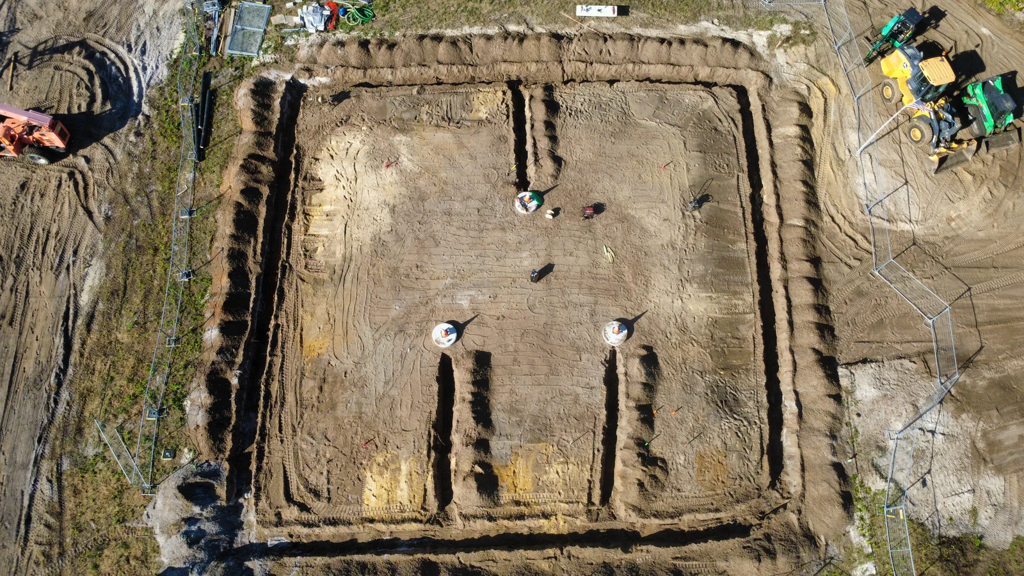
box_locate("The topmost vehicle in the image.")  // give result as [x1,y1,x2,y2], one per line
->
[861,6,929,62]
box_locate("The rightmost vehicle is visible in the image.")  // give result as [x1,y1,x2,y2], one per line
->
[960,76,1022,155]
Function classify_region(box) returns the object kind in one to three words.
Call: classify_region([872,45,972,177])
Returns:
work vehicle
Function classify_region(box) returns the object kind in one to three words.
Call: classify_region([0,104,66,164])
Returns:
work vehicle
